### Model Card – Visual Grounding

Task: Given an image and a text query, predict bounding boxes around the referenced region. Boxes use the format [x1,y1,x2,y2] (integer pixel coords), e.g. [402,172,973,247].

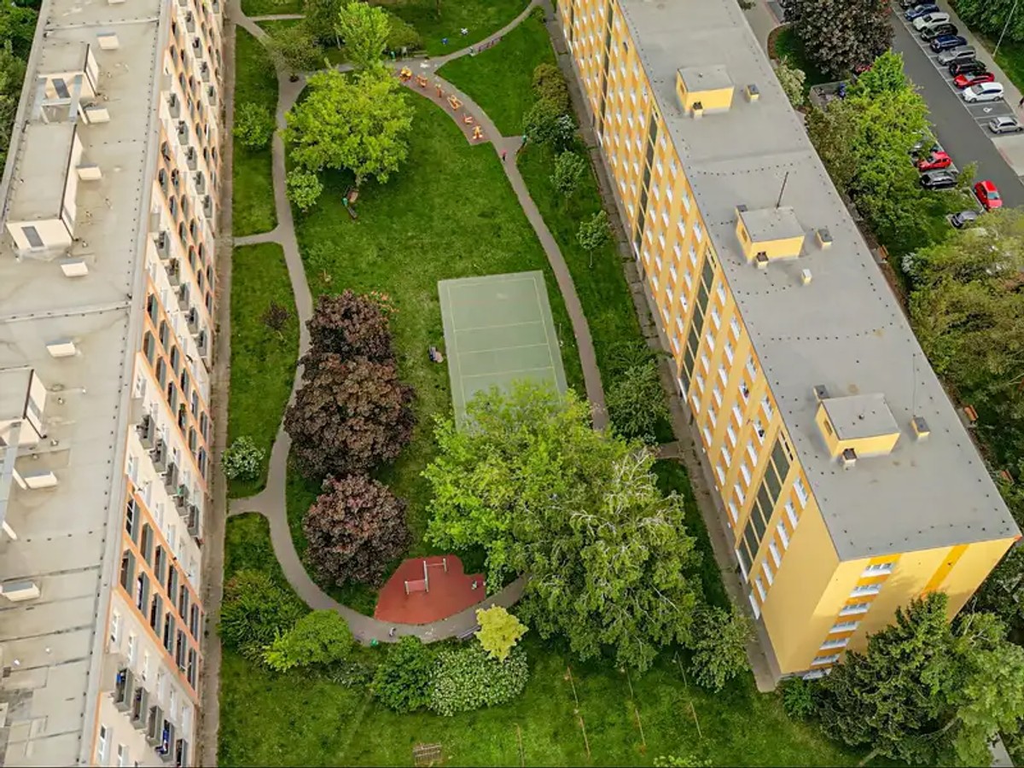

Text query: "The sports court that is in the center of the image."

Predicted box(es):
[438,271,571,422]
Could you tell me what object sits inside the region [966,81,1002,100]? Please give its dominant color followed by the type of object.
white car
